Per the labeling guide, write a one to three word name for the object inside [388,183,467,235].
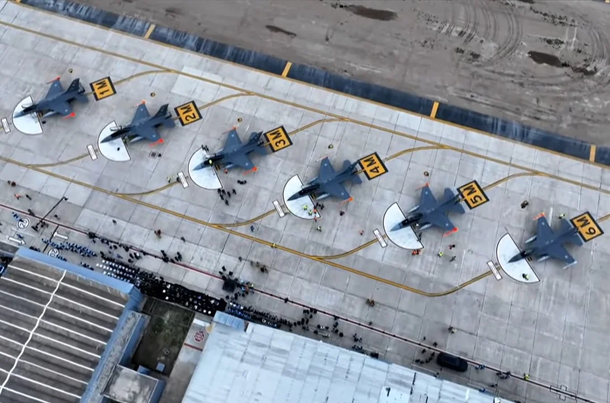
airplane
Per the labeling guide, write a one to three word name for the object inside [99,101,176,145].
airplane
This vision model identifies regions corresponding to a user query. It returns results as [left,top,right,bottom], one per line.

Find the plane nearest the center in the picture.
[287,157,365,204]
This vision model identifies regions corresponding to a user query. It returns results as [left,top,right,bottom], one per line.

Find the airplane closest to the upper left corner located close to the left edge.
[10,77,88,120]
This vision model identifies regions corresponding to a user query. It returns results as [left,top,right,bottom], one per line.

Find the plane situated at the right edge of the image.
[506,215,586,268]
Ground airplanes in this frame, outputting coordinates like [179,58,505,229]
[189,127,269,174]
[99,101,176,145]
[10,77,88,120]
[388,183,467,235]
[506,215,586,268]
[287,157,365,204]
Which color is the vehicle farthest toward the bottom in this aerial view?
black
